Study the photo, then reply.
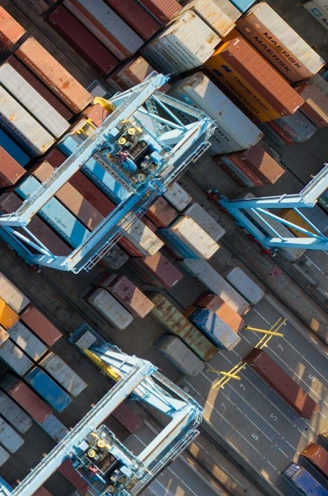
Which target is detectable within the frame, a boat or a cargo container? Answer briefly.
cargo container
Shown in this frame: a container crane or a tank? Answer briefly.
container crane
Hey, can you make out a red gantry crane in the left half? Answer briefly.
No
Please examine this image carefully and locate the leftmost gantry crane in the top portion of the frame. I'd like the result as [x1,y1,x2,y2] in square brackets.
[0,68,225,287]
